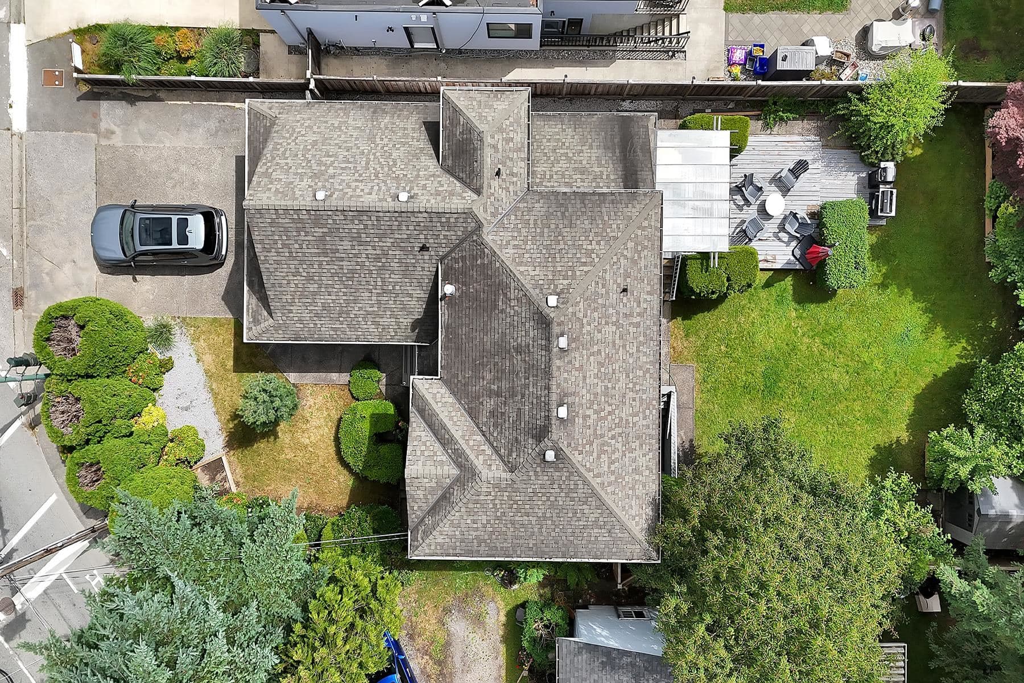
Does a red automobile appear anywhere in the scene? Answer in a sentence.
No, the scene contains no red automobile.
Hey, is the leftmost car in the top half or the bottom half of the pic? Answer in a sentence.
You can find the leftmost car in the top half.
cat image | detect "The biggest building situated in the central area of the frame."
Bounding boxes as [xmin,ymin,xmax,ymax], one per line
[241,83,667,565]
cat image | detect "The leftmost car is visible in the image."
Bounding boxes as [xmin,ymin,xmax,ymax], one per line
[90,199,233,269]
